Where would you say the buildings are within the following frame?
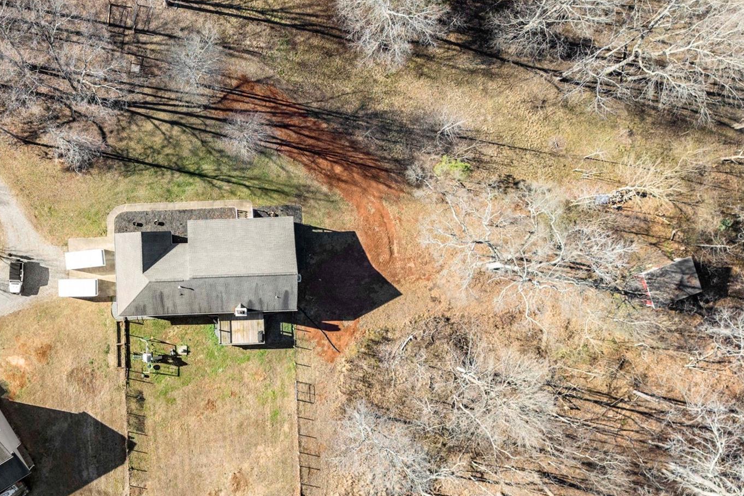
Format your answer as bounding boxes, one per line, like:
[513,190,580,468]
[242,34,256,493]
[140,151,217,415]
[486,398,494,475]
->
[633,257,701,308]
[115,208,302,344]
[0,410,35,493]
